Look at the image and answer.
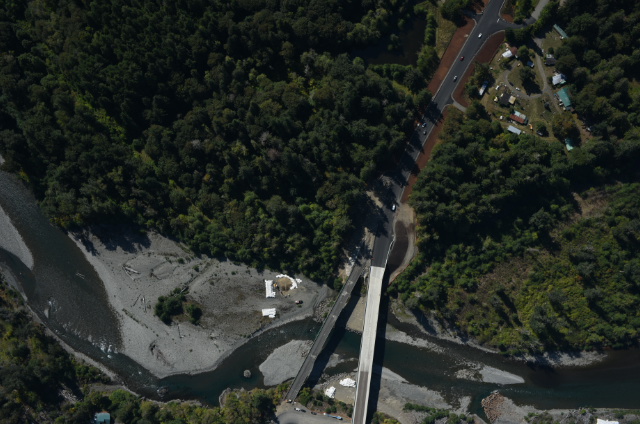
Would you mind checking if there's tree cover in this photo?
Yes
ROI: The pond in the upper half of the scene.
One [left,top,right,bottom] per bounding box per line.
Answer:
[350,13,427,68]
